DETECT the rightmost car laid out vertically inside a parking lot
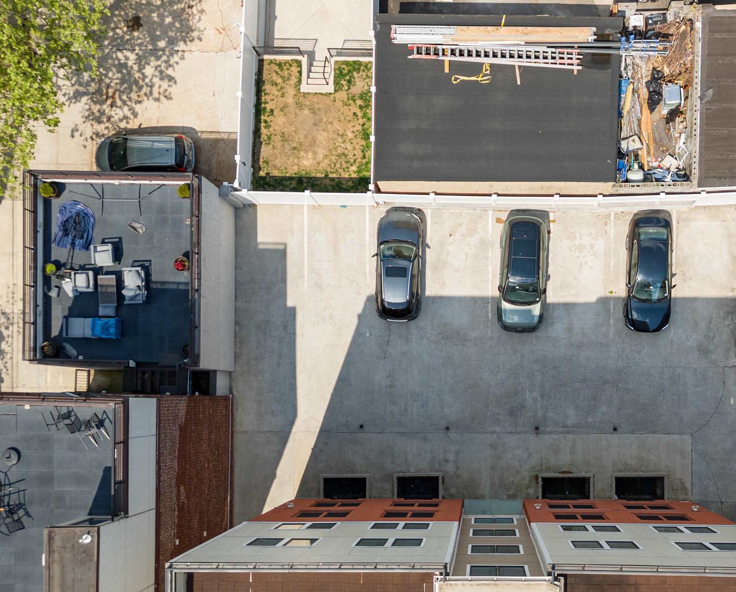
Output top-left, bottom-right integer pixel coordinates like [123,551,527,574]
[622,214,677,334]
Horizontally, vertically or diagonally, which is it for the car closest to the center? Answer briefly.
vertically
